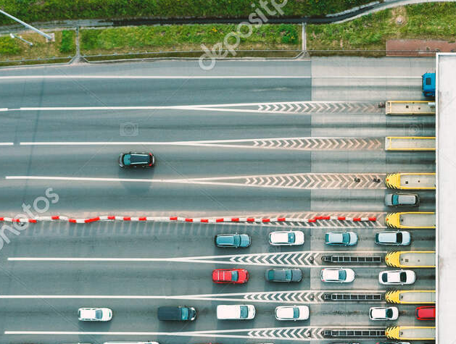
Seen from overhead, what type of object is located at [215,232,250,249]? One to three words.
car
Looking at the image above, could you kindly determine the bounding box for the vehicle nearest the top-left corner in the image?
[119,152,155,169]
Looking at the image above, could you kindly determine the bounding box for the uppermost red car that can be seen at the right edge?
[416,306,437,320]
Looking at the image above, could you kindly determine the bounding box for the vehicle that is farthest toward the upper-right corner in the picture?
[421,71,437,96]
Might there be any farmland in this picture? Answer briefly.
No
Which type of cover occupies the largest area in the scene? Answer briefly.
paved ground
